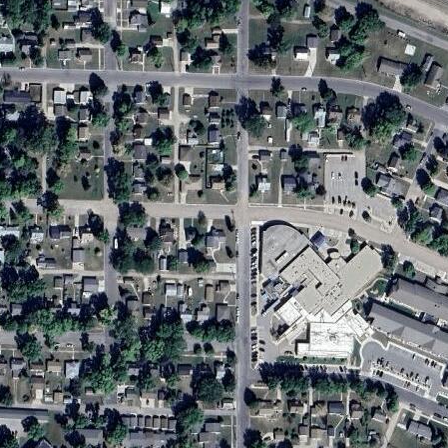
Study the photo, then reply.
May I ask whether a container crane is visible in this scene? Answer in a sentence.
No, I can see no container crane in this picture.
